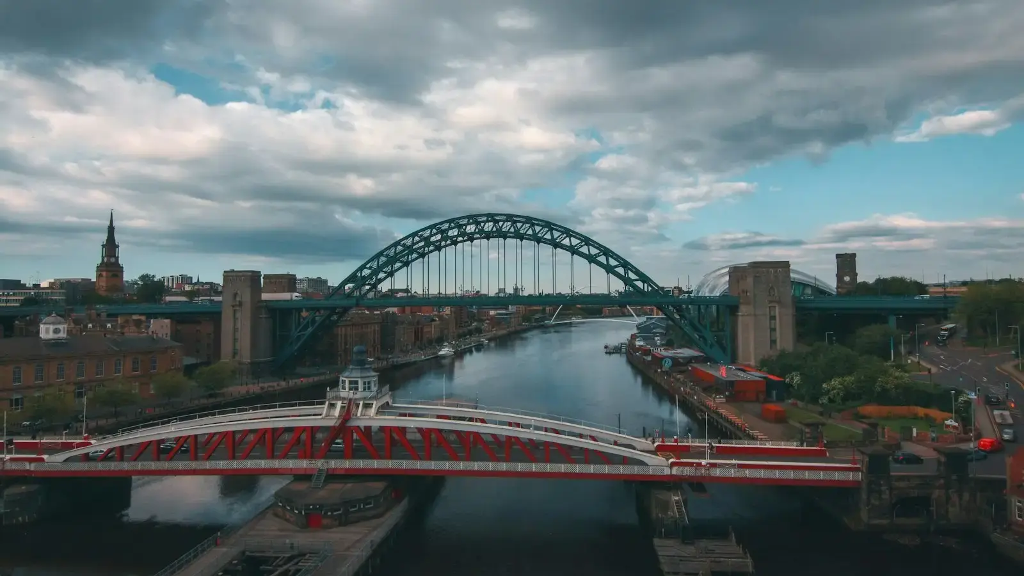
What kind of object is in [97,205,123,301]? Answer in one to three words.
building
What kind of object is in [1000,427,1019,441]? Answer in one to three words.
car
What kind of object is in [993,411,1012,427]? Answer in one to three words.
vehicle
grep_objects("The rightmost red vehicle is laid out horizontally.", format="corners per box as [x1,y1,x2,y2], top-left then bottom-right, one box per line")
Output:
[971,438,1010,454]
